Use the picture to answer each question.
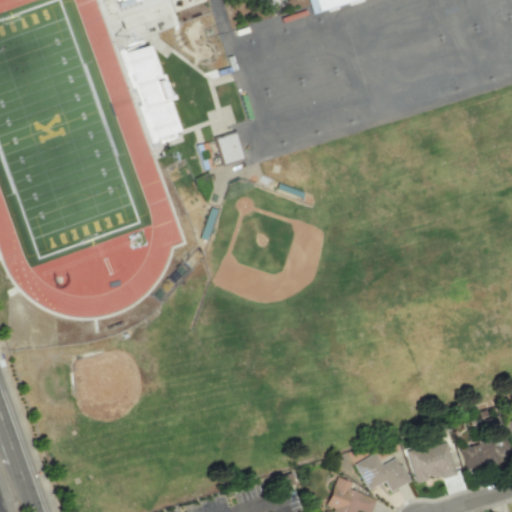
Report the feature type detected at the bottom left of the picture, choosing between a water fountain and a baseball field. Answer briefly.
baseball field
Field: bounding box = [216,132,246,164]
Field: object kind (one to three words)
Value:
building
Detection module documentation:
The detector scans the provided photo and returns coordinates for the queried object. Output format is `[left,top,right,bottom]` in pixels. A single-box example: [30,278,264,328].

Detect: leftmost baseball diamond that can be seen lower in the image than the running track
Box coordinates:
[75,350,142,420]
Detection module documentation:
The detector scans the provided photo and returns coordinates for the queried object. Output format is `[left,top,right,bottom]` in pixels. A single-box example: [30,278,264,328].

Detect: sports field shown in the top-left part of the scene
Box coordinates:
[0,0,152,268]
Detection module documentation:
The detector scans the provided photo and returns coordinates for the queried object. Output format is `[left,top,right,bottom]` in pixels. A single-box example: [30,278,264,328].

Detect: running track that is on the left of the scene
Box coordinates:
[0,0,188,320]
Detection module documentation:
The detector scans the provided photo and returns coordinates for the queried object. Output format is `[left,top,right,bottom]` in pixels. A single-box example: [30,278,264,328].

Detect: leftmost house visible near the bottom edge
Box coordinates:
[326,474,380,512]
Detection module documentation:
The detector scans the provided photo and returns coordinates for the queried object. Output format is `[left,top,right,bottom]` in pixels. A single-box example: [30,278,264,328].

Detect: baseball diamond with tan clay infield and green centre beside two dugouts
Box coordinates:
[213,195,324,303]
